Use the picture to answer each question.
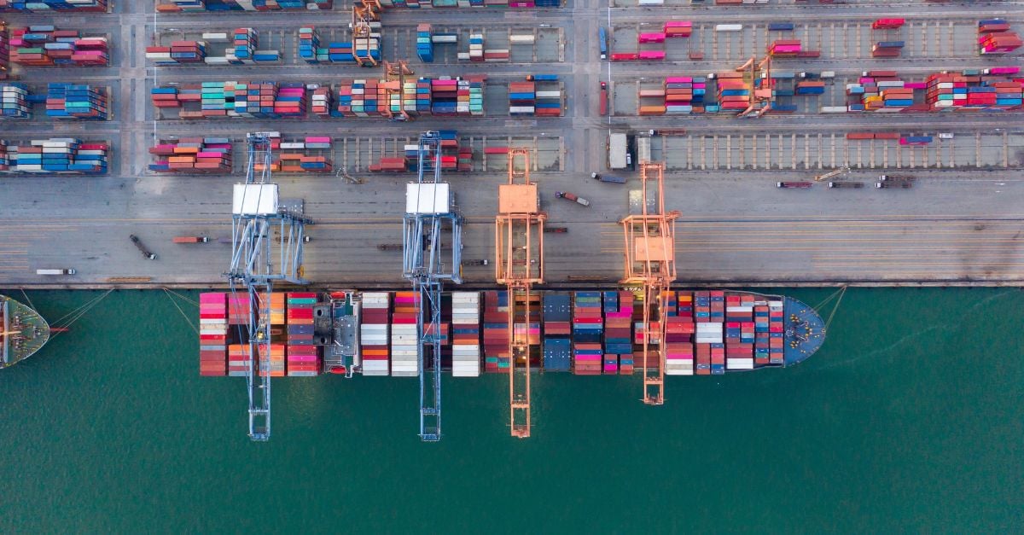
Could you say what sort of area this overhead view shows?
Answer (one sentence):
What you see here is a port.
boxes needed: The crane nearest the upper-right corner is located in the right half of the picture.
[737,57,770,118]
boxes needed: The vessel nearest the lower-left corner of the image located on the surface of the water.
[0,295,67,367]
